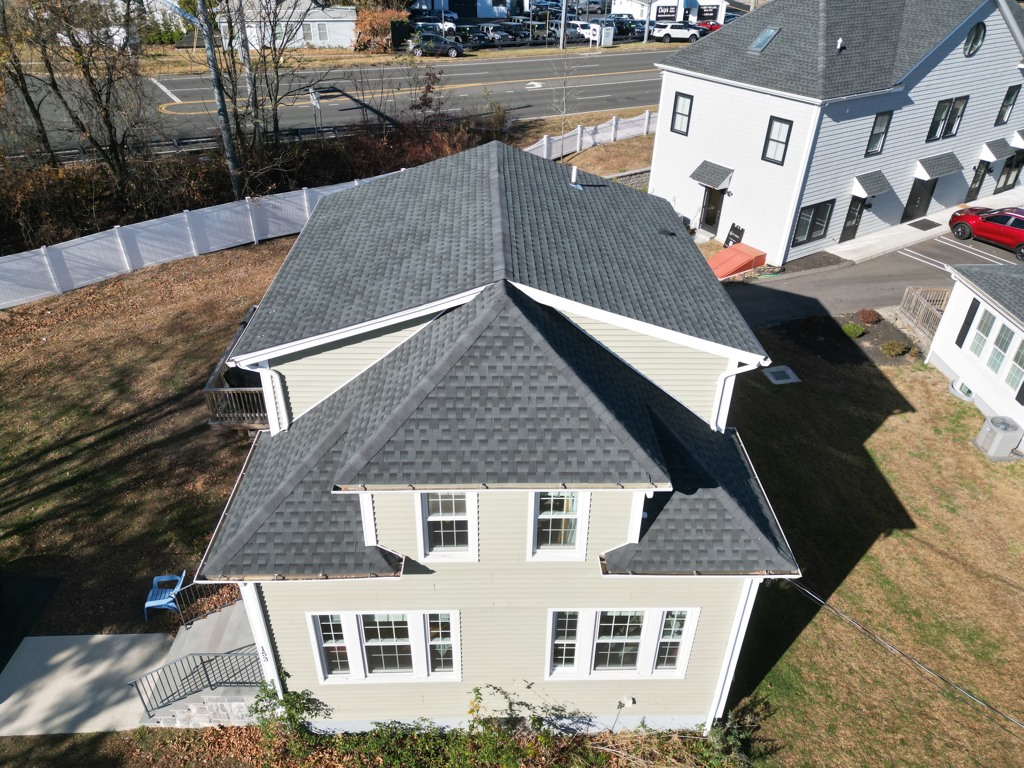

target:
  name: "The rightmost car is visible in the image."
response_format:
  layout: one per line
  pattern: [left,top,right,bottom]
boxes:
[950,206,1024,262]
